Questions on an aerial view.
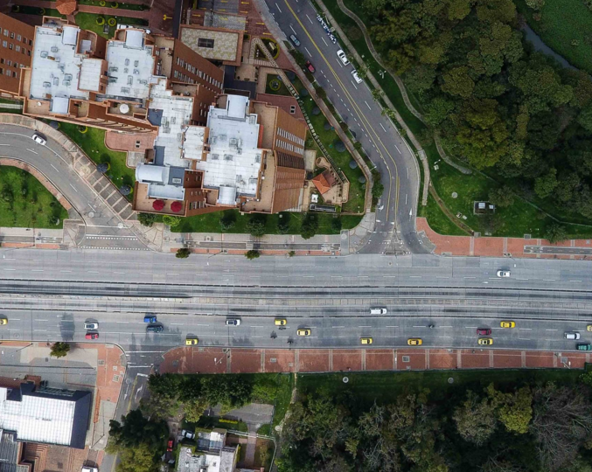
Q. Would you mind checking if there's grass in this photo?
Yes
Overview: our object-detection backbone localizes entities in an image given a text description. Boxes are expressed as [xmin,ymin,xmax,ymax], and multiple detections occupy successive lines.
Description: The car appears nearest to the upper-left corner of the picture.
[32,133,47,145]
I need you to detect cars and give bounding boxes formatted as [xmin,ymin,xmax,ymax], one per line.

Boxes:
[297,330,311,336]
[478,339,493,345]
[274,318,287,326]
[180,429,197,439]
[408,339,422,345]
[337,50,349,66]
[185,339,199,345]
[305,60,315,73]
[32,133,47,145]
[352,70,364,84]
[86,333,99,339]
[476,329,492,335]
[587,326,592,332]
[496,270,511,276]
[226,318,242,325]
[577,344,592,351]
[290,33,300,47]
[564,333,580,339]
[84,323,99,329]
[361,338,373,344]
[500,321,515,328]
[0,318,7,326]
[147,325,163,331]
